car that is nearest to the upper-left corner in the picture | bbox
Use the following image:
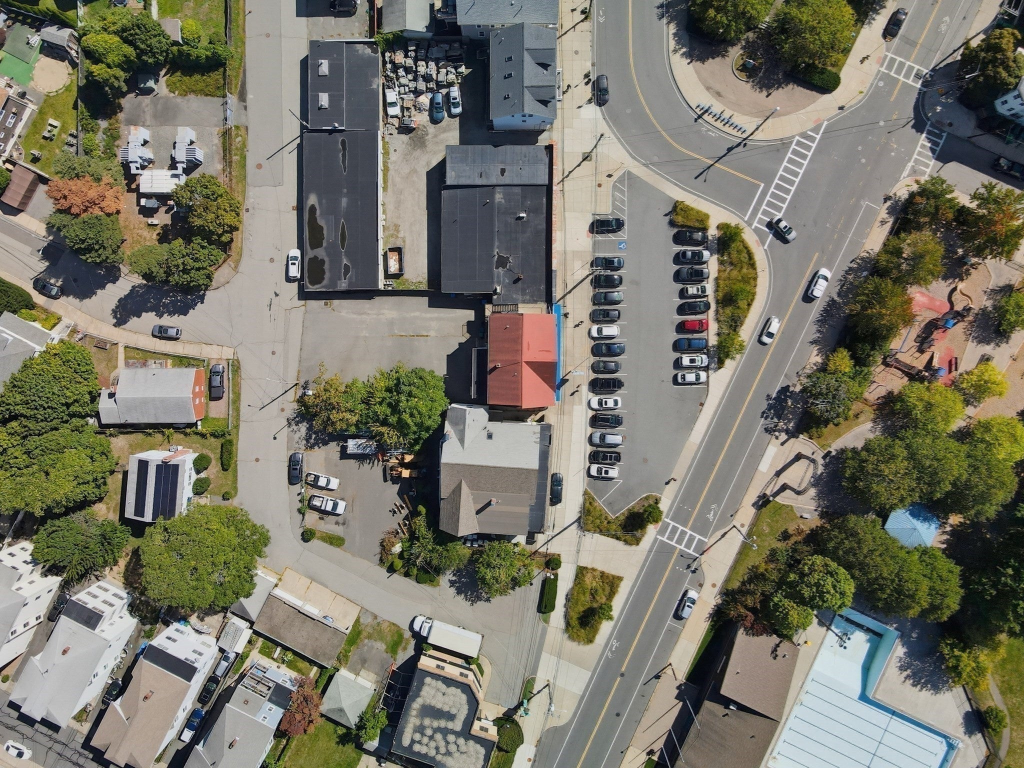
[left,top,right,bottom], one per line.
[31,277,64,299]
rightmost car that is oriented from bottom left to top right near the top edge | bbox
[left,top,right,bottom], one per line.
[882,7,909,42]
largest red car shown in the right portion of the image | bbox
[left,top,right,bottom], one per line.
[682,319,709,332]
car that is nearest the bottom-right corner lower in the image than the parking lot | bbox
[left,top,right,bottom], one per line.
[677,589,698,619]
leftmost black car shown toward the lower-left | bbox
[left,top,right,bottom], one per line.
[48,592,71,621]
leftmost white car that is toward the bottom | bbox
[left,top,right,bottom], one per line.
[4,739,33,759]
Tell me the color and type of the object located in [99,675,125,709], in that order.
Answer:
black truck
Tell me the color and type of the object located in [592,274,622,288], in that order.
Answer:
black car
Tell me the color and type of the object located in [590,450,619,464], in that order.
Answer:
black car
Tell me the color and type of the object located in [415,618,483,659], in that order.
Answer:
white truck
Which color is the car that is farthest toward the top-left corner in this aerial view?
black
